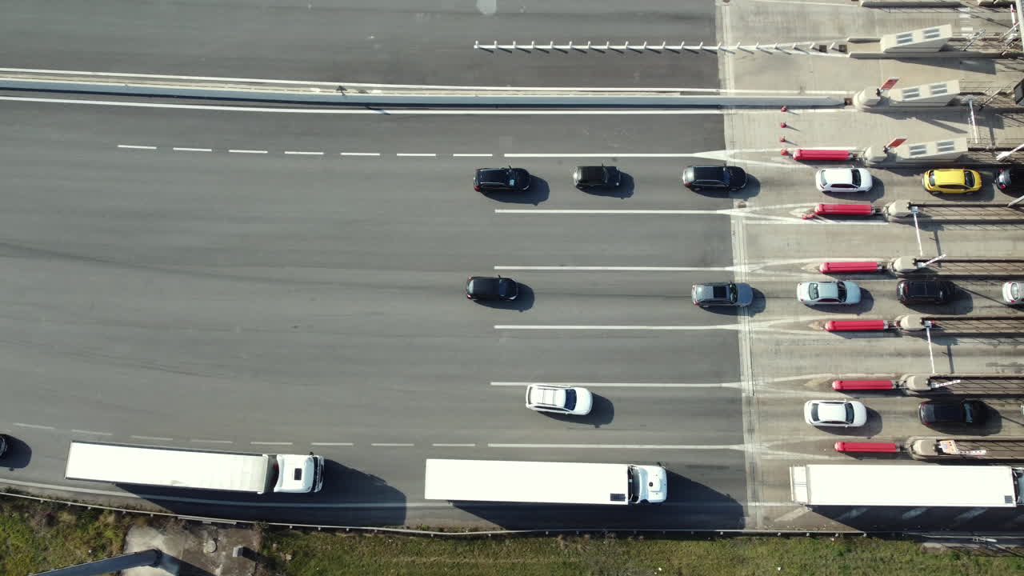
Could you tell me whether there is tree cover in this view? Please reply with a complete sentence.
No, no tree cover is visible.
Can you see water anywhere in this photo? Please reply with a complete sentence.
No, water can't be seen anywhere here.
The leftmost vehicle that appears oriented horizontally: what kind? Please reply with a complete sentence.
What you see as the leftmost vehicle that appears oriented horizontally is a truck.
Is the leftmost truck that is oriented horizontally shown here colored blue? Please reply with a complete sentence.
No, the color of the leftmost truck that is oriented horizontally is white.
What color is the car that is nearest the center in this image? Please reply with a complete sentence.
The color of the car that is nearest the center is black.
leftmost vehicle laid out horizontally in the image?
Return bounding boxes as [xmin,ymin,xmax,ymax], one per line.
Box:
[64,441,327,498]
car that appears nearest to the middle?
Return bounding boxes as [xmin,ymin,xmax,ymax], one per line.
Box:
[466,274,519,303]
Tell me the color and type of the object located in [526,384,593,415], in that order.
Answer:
white car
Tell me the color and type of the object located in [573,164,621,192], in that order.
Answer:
black car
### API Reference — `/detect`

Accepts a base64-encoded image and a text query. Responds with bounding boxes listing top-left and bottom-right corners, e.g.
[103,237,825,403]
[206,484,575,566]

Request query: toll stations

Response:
[717,0,1024,541]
